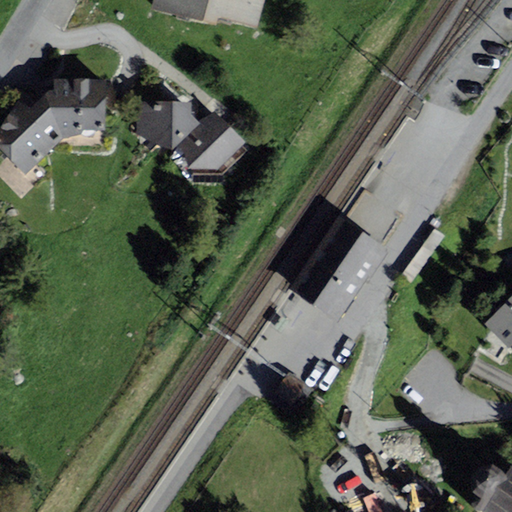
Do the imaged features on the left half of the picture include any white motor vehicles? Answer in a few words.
No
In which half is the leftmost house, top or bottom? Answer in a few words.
top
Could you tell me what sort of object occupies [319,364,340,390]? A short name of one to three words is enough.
vehicle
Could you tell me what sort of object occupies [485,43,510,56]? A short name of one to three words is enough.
vehicle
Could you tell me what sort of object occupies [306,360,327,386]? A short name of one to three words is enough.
truck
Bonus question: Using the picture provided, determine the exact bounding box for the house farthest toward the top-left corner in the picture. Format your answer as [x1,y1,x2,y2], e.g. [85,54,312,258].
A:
[0,77,108,174]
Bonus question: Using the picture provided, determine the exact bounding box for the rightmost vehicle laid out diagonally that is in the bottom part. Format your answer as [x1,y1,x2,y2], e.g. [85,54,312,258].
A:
[402,384,428,406]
